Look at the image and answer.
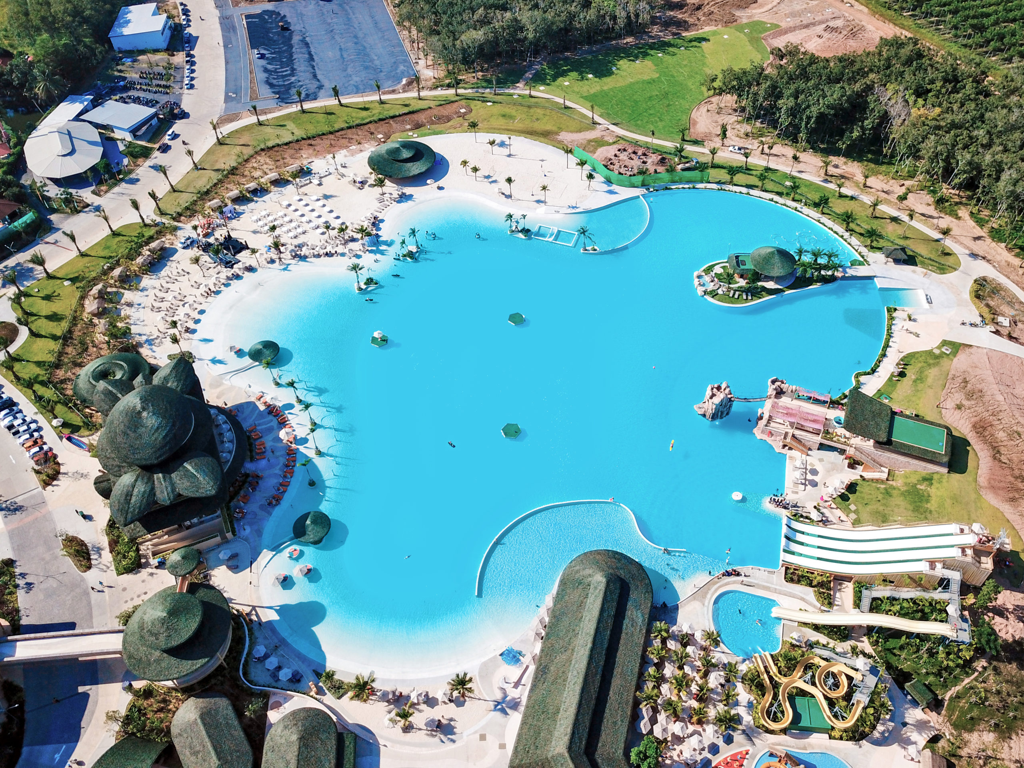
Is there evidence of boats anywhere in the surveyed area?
Yes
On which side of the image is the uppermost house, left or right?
left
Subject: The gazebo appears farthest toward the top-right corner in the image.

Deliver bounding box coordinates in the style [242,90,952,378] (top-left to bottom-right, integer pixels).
[881,247,908,266]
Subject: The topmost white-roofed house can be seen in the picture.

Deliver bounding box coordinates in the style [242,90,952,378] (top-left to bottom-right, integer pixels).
[108,3,171,49]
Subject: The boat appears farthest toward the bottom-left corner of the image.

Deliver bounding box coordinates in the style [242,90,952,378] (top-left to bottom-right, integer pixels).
[55,426,90,451]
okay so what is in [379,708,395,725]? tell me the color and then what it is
white umbrella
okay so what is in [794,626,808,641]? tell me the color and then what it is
white umbrella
